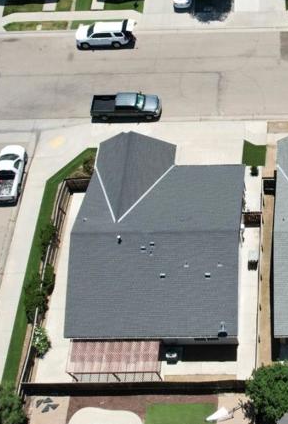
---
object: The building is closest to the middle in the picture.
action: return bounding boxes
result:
[63,130,246,348]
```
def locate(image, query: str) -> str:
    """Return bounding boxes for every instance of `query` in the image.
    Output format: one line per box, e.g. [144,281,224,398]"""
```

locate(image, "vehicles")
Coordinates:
[90,92,161,121]
[174,0,194,11]
[0,144,26,207]
[72,20,133,51]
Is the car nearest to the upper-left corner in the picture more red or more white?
white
